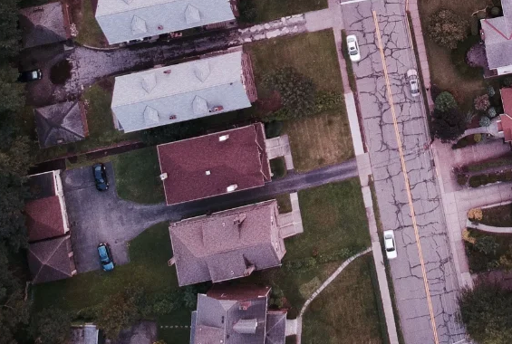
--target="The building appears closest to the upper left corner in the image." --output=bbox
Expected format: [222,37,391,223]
[19,1,78,49]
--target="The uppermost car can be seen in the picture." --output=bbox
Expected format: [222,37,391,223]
[345,33,361,63]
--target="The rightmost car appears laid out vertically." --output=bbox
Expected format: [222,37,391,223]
[406,68,421,97]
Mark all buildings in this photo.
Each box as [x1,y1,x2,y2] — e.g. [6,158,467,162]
[24,167,75,242]
[168,195,303,287]
[93,0,238,45]
[70,320,104,344]
[109,46,256,133]
[34,98,95,148]
[156,122,294,206]
[19,1,78,49]
[190,285,289,344]
[479,0,512,79]
[30,230,84,285]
